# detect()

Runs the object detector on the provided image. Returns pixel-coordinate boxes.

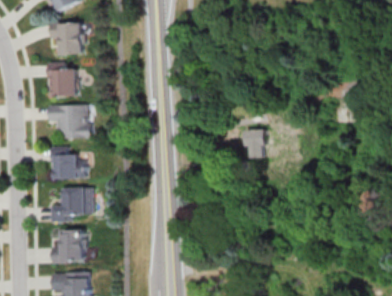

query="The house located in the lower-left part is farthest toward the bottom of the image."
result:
[52,272,91,296]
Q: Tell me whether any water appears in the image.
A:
No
